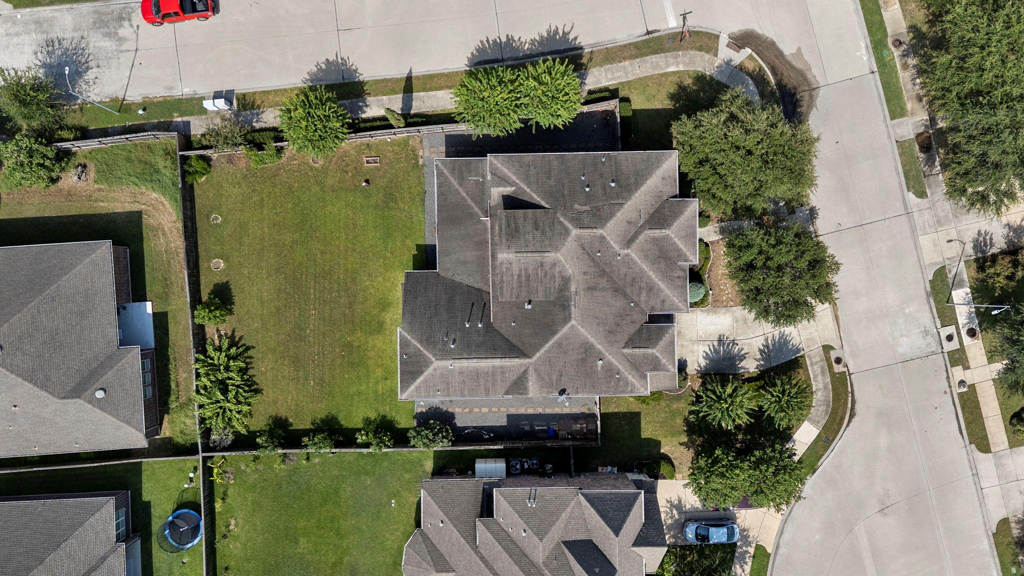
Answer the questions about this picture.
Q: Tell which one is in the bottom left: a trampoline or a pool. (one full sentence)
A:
What appears in the bottom left is a trampoline.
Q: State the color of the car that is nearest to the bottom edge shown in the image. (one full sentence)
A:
The car that is nearest to the bottom edge looks blue in the image.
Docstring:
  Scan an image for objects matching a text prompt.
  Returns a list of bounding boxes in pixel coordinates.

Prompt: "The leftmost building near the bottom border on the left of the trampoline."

[0,489,135,576]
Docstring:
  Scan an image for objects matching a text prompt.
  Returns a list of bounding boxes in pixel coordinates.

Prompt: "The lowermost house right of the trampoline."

[401,467,668,576]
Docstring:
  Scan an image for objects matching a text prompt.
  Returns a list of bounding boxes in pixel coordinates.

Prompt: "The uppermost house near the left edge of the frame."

[0,239,166,458]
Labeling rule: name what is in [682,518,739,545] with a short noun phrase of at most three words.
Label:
car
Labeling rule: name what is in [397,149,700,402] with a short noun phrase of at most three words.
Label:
house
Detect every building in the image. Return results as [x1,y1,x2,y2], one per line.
[0,489,135,576]
[0,239,166,458]
[401,467,668,576]
[397,149,700,402]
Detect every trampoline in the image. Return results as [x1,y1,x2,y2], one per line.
[154,507,203,554]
